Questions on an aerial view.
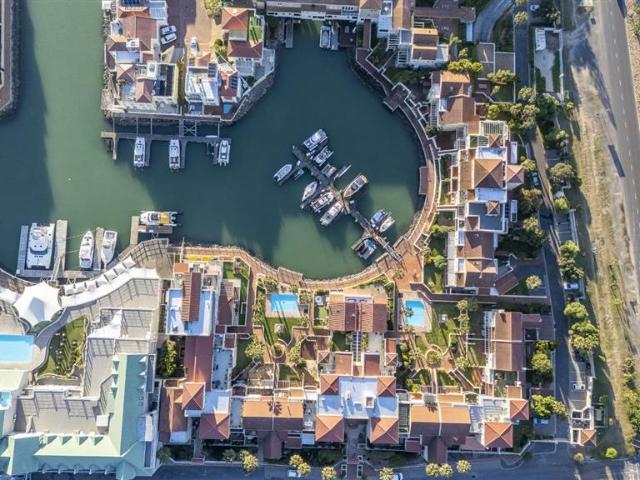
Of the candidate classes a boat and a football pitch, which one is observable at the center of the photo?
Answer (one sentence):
What appears at the center of the photo is a boat.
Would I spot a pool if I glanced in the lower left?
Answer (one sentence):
Yes, the scene does show a pool in the lower left.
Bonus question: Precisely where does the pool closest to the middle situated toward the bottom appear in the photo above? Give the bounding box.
[270,292,299,313]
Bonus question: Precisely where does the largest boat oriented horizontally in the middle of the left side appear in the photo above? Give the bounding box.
[139,208,179,226]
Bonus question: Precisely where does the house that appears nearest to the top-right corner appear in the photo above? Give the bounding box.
[532,29,559,52]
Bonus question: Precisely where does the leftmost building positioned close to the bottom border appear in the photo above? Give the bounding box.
[0,351,161,479]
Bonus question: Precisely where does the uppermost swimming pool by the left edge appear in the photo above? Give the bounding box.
[0,334,35,364]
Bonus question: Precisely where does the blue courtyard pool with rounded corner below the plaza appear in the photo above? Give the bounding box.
[404,299,426,328]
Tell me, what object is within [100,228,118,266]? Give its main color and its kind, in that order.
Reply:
white boat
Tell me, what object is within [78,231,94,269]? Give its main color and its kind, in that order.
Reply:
white boat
